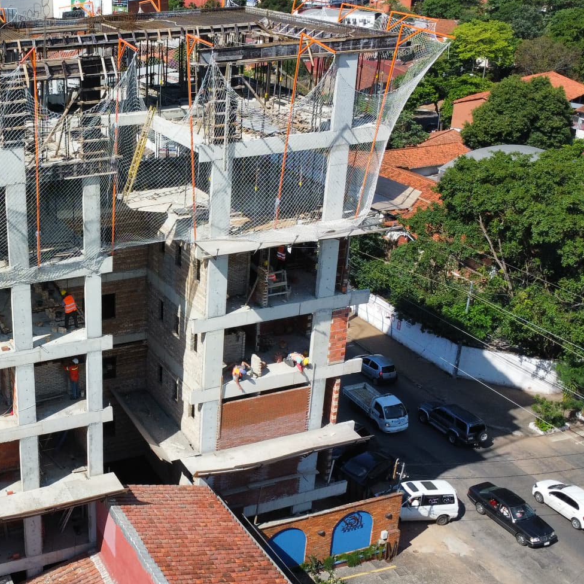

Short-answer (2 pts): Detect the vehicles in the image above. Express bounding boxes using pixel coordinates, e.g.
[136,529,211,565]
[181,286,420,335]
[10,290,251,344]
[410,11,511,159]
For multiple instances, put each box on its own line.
[357,352,401,385]
[333,444,381,491]
[388,476,457,524]
[342,378,413,431]
[419,402,489,448]
[469,487,564,553]
[534,481,584,533]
